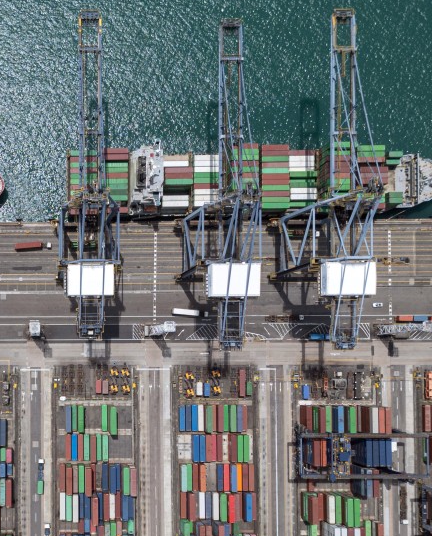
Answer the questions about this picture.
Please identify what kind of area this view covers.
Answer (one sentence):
It's a port.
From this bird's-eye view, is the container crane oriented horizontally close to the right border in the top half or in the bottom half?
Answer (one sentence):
You can find the container crane oriented horizontally close to the right border in the bottom half.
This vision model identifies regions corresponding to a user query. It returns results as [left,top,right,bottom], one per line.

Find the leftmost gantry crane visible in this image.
[49,9,121,347]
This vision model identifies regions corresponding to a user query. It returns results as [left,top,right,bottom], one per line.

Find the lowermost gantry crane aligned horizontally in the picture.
[297,423,428,480]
